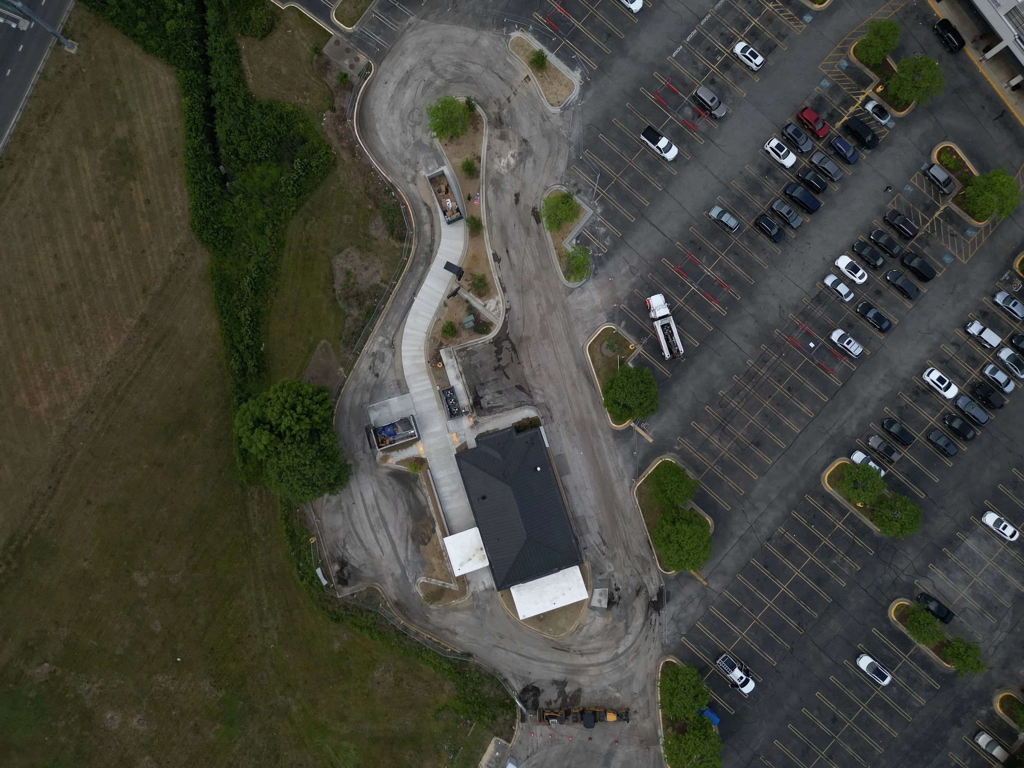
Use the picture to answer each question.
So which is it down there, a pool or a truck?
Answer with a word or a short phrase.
truck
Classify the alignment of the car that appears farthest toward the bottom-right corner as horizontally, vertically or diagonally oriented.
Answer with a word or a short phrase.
diagonally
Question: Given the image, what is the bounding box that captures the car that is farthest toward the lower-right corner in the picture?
[972,730,1011,764]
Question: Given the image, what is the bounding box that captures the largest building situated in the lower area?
[454,426,583,592]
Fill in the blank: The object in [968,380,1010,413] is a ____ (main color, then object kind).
black truck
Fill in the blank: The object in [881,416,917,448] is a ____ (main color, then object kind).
black car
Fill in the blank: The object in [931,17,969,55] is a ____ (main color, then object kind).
black car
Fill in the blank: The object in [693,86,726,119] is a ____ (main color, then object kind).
gray car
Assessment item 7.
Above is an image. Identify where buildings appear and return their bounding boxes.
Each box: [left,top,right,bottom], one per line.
[973,0,1024,68]
[454,426,583,592]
